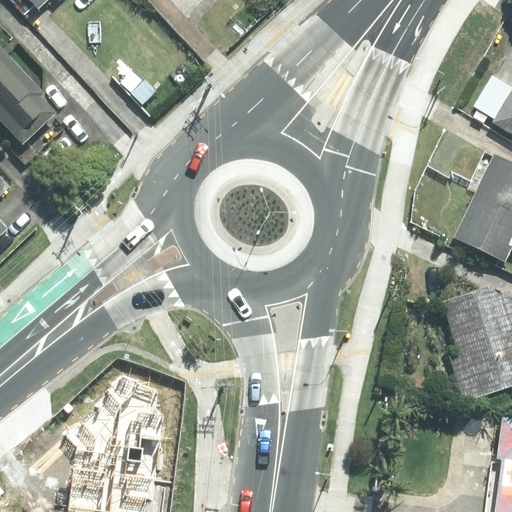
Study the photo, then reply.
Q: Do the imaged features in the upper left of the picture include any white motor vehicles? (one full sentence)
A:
Yes, a white motor vehicle shows up in the upper left of the picture.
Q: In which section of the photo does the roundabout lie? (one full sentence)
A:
The roundabout sits in the center section of the image.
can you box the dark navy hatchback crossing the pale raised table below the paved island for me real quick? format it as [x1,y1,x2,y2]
[132,290,166,308]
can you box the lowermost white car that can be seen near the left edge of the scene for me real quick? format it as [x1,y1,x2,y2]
[6,208,33,236]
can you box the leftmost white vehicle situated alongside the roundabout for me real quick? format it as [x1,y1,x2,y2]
[120,220,155,251]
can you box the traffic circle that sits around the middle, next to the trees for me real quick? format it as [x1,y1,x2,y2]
[155,132,364,320]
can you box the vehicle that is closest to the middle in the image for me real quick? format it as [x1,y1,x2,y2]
[228,288,252,321]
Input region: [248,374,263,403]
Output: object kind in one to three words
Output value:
car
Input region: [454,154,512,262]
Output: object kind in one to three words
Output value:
house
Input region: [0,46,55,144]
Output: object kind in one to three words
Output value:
house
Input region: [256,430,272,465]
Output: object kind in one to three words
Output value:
vehicle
